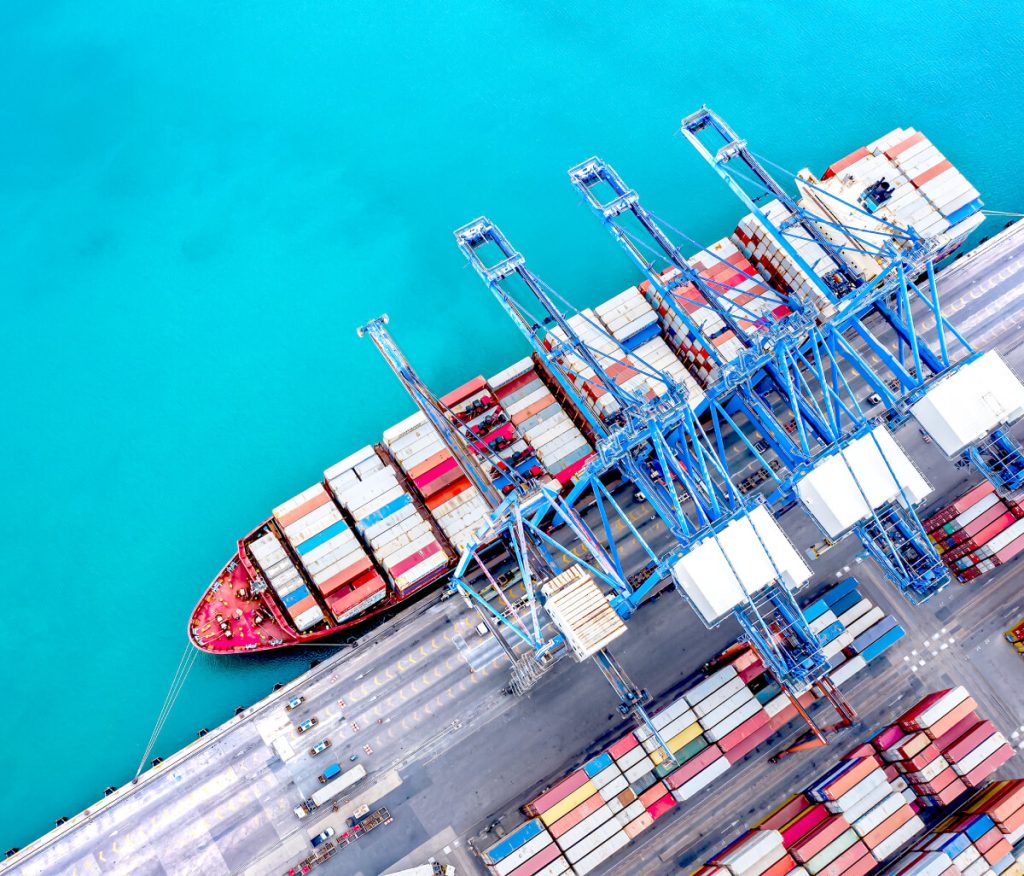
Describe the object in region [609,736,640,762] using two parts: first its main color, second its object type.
red shipping container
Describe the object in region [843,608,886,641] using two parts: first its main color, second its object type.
white shipping container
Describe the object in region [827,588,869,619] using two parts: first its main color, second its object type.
blue shipping container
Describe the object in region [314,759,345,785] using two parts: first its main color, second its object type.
blue truck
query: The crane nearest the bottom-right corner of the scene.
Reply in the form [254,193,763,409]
[710,621,858,764]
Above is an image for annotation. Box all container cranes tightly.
[567,150,958,616]
[451,209,838,703]
[356,305,691,776]
[682,100,1024,534]
[710,621,858,764]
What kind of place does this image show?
port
